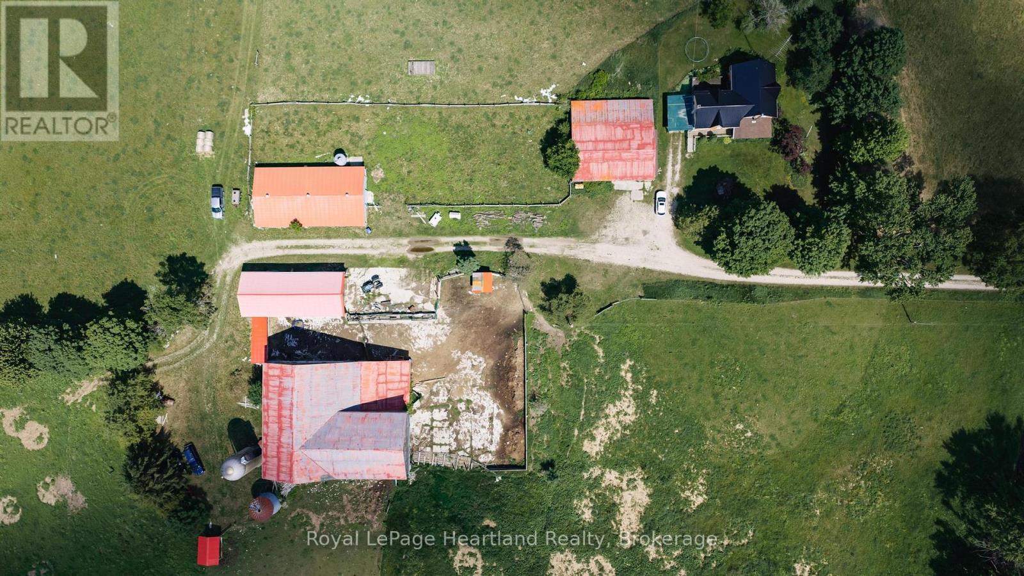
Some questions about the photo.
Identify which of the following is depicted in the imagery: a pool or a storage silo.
storage silo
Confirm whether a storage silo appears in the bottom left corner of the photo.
Yes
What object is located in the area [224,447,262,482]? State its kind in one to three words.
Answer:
silo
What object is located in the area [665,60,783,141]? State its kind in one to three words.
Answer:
house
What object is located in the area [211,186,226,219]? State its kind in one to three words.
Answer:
vehicle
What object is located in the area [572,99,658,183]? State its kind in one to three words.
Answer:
shed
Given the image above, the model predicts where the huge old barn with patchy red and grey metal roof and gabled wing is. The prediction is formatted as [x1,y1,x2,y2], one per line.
[262,360,411,486]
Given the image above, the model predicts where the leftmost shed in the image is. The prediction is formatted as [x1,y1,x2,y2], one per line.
[197,531,224,566]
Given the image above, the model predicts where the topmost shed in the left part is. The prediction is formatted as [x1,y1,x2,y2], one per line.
[248,166,367,227]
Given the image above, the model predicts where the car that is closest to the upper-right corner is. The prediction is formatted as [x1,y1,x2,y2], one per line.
[654,190,667,216]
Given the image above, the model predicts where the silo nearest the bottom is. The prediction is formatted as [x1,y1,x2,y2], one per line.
[247,489,281,521]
